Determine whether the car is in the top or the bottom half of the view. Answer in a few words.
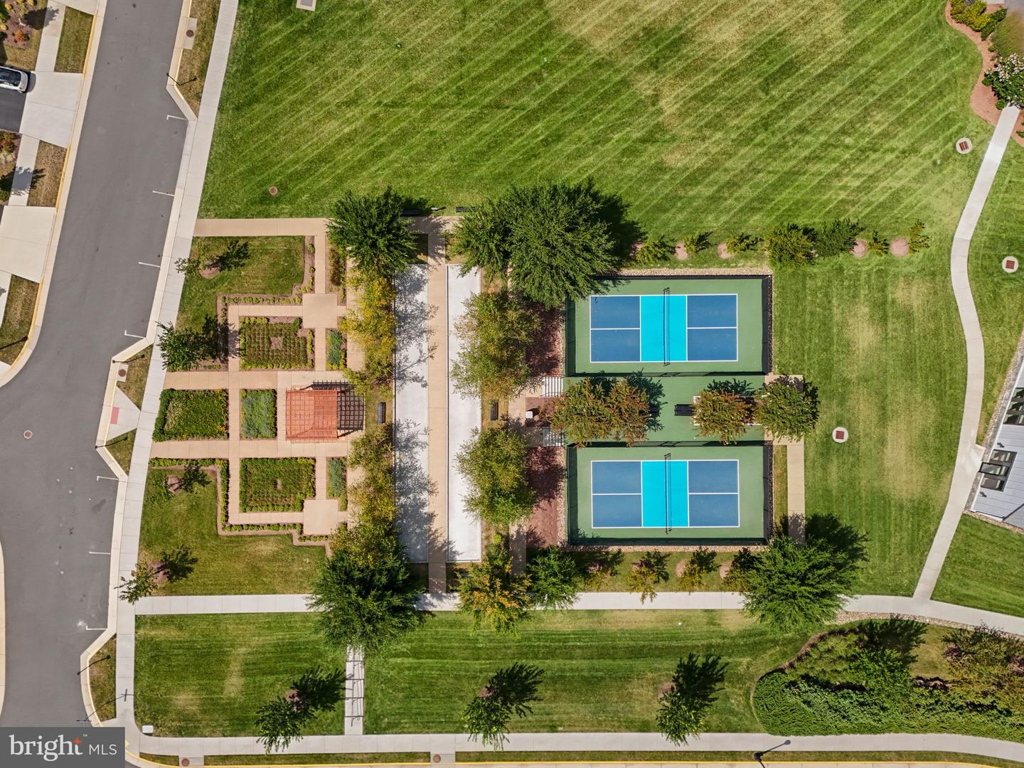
top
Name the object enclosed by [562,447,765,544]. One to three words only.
sports court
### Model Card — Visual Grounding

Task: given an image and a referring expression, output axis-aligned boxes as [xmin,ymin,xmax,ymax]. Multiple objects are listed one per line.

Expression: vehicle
[0,60,31,88]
